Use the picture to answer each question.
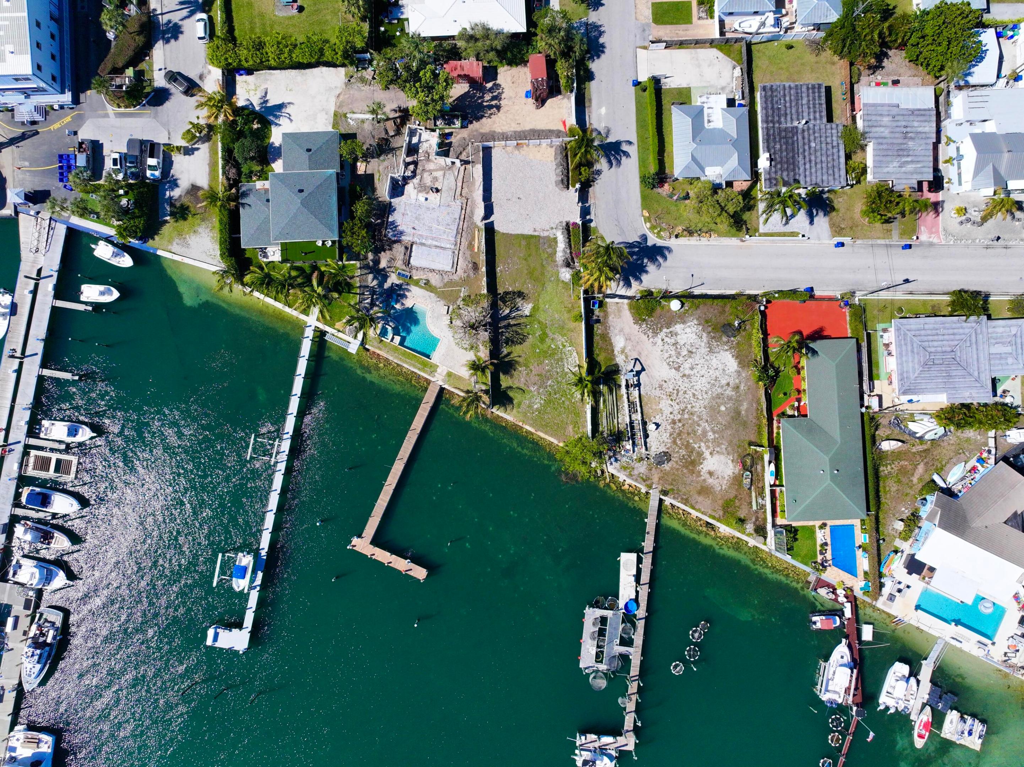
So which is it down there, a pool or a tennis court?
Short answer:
pool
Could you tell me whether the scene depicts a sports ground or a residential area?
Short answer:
residential area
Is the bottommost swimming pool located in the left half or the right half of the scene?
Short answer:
right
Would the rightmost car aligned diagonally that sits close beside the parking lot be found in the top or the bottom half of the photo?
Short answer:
top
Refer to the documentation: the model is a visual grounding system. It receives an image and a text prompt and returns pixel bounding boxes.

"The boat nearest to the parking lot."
[88,240,135,266]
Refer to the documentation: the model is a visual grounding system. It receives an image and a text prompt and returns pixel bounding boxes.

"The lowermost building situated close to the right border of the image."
[908,461,1024,605]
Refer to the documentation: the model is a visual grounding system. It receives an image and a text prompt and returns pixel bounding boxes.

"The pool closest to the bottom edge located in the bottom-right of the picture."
[913,585,1010,645]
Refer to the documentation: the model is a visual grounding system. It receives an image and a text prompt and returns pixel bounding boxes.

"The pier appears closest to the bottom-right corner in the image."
[938,708,986,749]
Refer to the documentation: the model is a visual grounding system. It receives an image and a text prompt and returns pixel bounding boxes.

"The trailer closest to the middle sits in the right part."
[622,367,647,457]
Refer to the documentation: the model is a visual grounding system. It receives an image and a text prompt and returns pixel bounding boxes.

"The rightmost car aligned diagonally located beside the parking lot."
[161,70,195,98]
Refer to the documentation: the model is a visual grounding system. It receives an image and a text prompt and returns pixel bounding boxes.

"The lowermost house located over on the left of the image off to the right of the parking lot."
[240,131,345,265]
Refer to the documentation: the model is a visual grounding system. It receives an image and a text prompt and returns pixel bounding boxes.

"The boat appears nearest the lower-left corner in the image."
[5,725,56,767]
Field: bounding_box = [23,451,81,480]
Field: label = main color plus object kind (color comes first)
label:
white ship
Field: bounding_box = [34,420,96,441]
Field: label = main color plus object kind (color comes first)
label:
white boat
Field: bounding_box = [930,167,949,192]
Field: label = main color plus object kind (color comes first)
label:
black car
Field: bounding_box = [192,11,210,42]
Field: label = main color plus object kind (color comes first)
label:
white car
